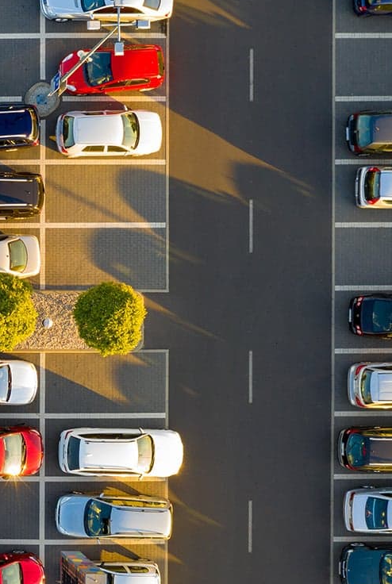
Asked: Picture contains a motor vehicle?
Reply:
Yes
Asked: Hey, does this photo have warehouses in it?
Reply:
No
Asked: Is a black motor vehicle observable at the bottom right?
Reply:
Yes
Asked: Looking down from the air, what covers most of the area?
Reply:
paved ground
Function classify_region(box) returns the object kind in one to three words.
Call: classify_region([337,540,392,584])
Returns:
car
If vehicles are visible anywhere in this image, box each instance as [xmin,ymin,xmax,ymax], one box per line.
[350,0,392,21]
[336,425,392,472]
[0,427,44,480]
[55,492,173,542]
[0,170,46,218]
[343,484,392,533]
[346,362,392,410]
[55,107,161,159]
[344,110,392,157]
[88,557,162,584]
[353,166,392,210]
[58,428,183,479]
[0,554,44,584]
[0,107,41,155]
[347,294,392,337]
[57,43,167,97]
[337,540,392,584]
[0,360,37,409]
[0,238,41,284]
